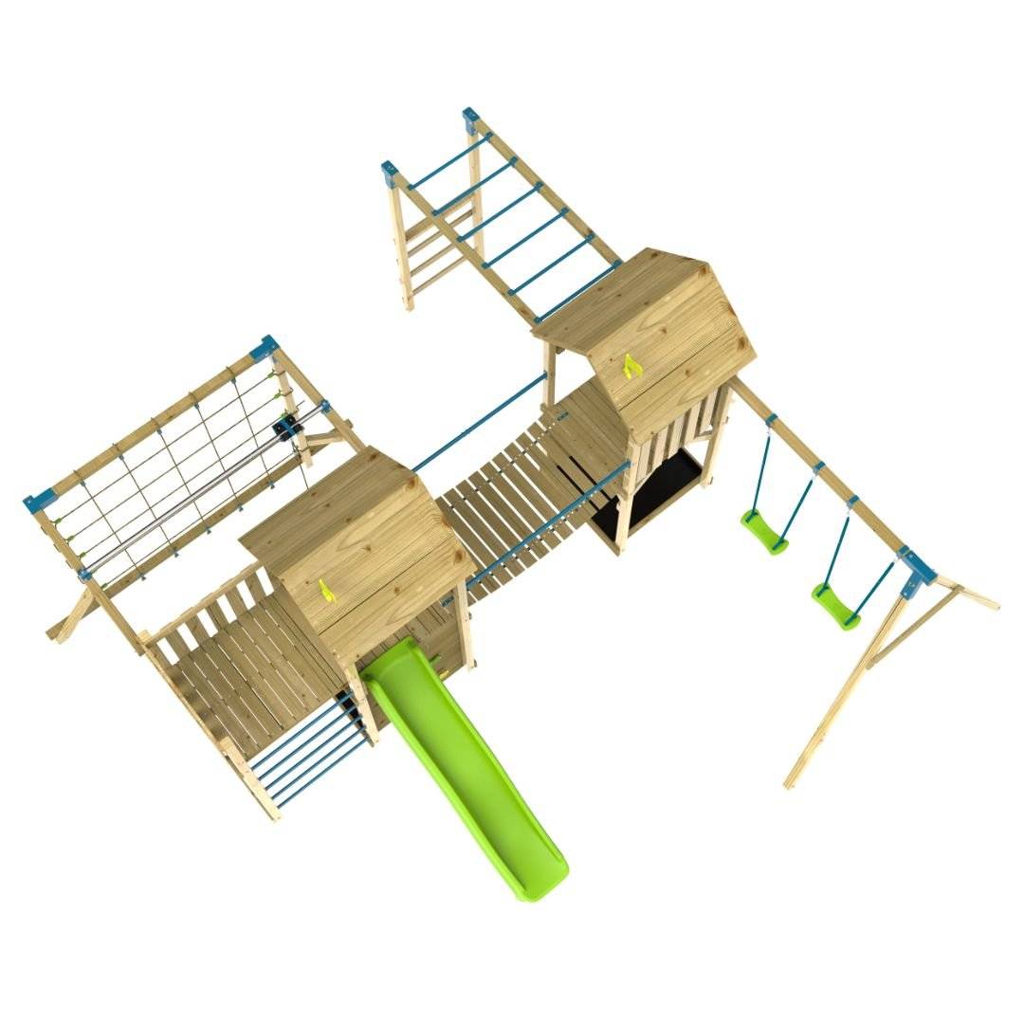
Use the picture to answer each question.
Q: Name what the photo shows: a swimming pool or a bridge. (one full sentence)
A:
I can see a bridge in this picture.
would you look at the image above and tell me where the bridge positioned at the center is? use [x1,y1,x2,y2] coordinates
[416,375,630,603]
